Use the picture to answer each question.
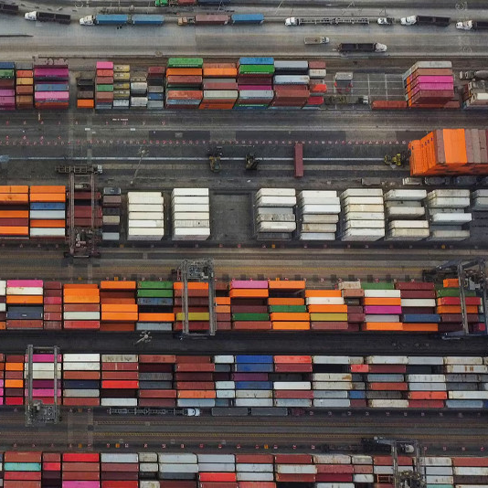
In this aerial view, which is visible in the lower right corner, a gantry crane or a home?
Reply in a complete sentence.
It is a gantry crane that can be seen in the lower right corner.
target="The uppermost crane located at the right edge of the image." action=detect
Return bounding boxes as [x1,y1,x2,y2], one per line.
[425,258,488,339]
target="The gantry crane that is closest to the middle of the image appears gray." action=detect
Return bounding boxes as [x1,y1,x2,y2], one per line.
[171,257,217,340]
